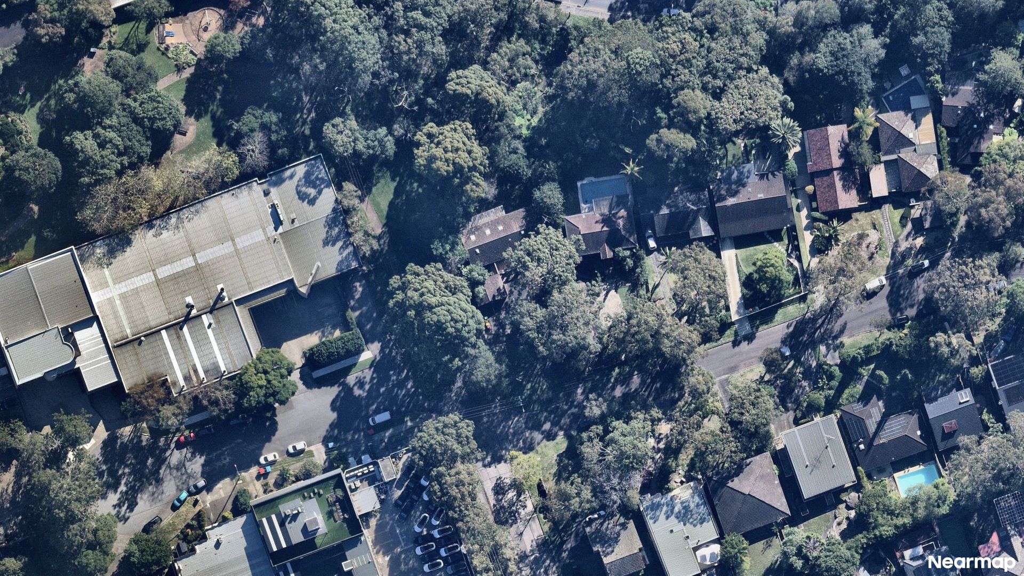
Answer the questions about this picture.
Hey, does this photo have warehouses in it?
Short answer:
Yes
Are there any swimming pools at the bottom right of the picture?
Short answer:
Yes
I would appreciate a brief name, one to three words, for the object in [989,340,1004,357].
car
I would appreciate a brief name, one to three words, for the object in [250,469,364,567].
building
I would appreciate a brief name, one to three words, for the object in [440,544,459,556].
vehicle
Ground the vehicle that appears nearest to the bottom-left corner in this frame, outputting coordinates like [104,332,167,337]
[143,516,161,531]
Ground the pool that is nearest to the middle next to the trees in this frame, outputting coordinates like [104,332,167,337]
[577,175,633,214]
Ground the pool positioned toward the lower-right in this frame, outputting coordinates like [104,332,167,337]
[892,460,941,500]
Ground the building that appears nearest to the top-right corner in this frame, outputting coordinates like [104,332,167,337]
[941,86,1008,164]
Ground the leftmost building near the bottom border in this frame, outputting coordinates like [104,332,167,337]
[176,511,275,576]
